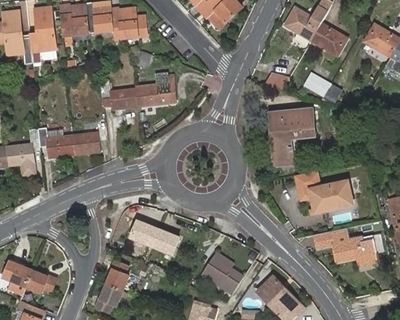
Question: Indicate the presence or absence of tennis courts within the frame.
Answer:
No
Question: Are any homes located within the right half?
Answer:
Yes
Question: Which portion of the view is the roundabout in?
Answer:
center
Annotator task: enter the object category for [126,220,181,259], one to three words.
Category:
house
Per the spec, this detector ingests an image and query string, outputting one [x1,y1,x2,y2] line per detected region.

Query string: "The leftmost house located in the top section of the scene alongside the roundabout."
[102,73,178,114]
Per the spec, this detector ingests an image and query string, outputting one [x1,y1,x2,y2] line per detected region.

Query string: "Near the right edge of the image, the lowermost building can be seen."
[314,228,385,272]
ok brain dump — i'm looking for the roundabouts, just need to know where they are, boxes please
[159,125,245,210]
